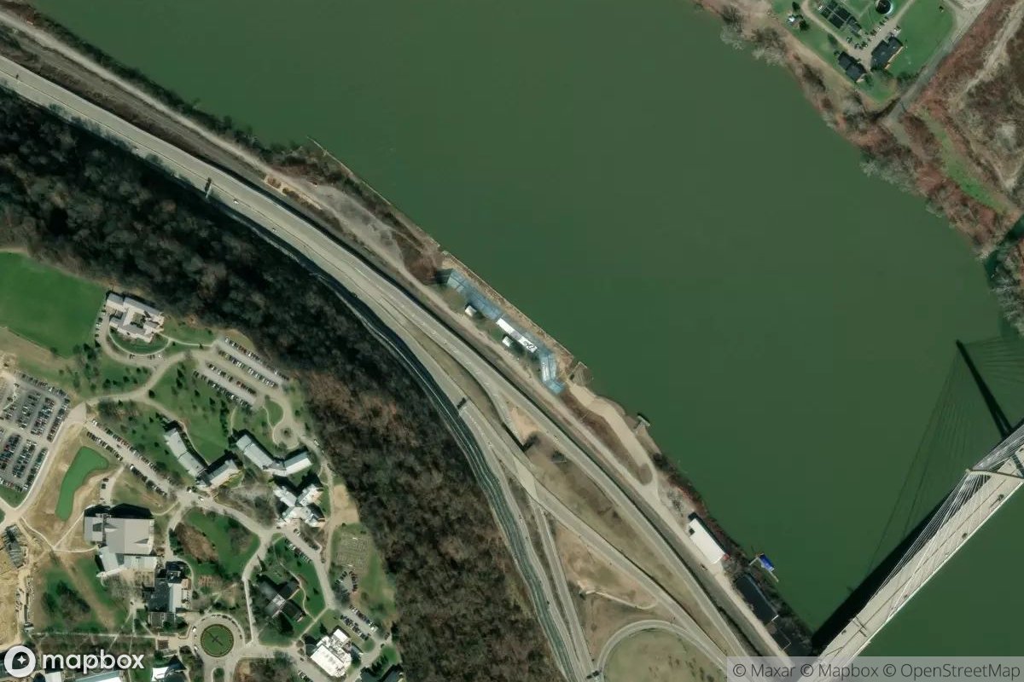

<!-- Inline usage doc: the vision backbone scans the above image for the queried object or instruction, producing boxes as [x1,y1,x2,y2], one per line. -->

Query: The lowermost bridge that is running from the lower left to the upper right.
[787,424,1024,682]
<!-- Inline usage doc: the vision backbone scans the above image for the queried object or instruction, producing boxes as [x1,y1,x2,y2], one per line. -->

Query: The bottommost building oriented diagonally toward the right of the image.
[768,623,794,650]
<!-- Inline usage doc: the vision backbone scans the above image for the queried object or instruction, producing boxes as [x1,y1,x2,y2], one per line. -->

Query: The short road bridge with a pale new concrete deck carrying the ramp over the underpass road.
[512,448,560,515]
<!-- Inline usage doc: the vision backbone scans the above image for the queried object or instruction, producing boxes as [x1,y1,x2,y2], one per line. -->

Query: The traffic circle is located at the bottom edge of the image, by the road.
[188,612,246,682]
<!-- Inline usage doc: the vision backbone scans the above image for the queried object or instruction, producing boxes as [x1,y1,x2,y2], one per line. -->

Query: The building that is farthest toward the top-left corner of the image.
[106,292,169,343]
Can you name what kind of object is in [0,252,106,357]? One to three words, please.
sports field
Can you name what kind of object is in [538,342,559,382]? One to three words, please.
shed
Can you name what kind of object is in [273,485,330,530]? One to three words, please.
building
